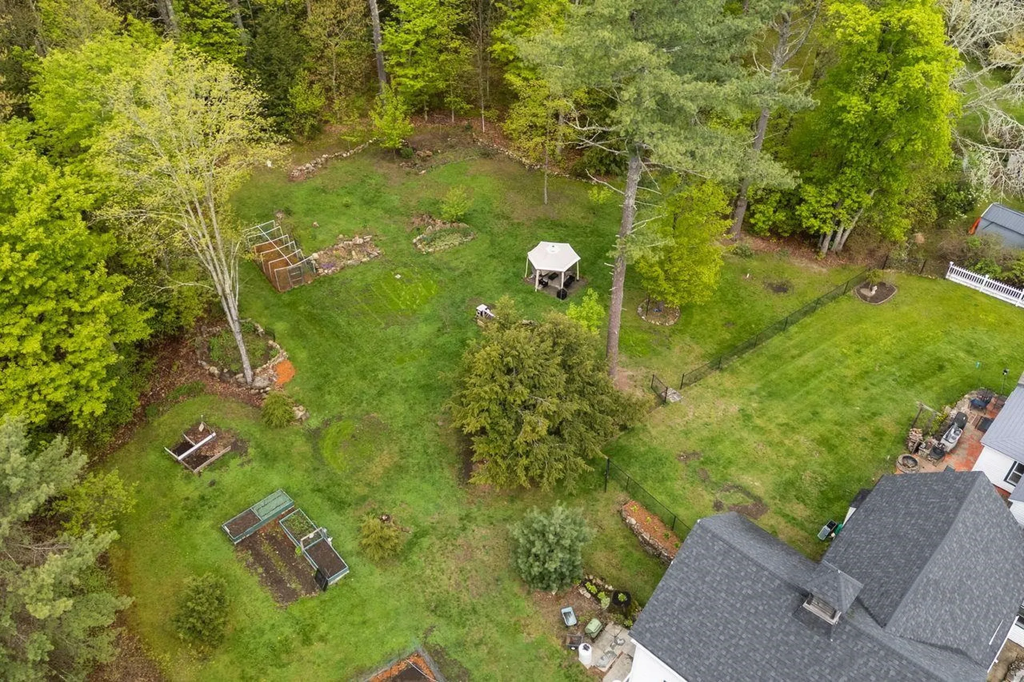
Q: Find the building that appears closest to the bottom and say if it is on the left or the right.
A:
right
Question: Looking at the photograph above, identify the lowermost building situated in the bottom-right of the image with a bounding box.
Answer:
[624,473,1024,682]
